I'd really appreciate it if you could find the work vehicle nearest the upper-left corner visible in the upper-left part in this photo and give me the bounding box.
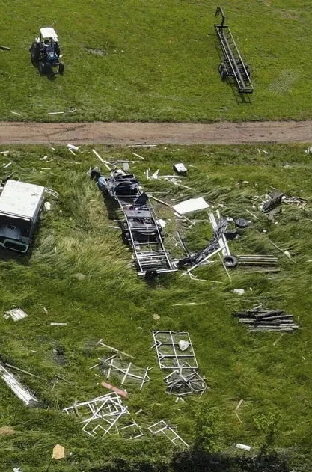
[25,25,64,73]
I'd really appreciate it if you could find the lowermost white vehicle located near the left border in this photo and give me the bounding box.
[0,174,50,252]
